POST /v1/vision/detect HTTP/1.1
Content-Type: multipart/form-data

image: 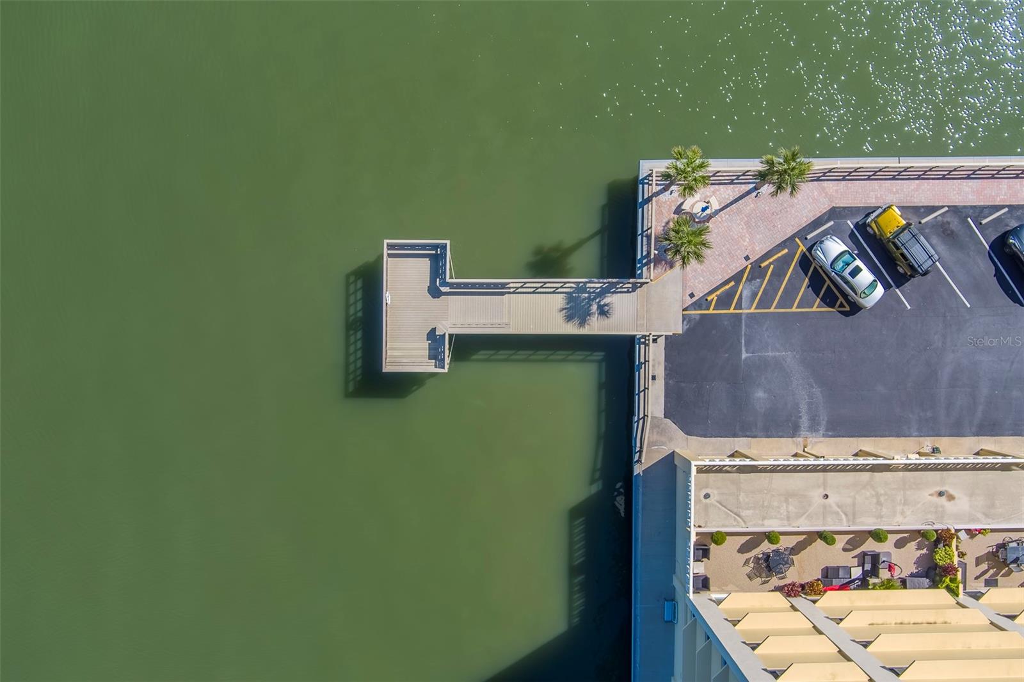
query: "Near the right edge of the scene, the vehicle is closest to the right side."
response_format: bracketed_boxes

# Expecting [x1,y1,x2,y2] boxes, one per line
[1000,221,1024,273]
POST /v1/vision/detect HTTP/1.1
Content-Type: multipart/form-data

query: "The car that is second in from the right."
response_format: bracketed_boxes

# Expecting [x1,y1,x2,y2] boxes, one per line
[862,199,939,280]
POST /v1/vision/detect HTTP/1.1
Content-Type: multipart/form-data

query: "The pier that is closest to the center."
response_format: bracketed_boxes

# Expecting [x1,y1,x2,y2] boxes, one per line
[384,240,673,372]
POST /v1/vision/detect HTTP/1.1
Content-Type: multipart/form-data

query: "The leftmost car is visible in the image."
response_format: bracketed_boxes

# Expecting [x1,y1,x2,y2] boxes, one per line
[809,234,885,311]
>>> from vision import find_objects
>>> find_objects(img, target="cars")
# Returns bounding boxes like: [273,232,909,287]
[862,199,939,280]
[1000,221,1024,273]
[809,234,885,311]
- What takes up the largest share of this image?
water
